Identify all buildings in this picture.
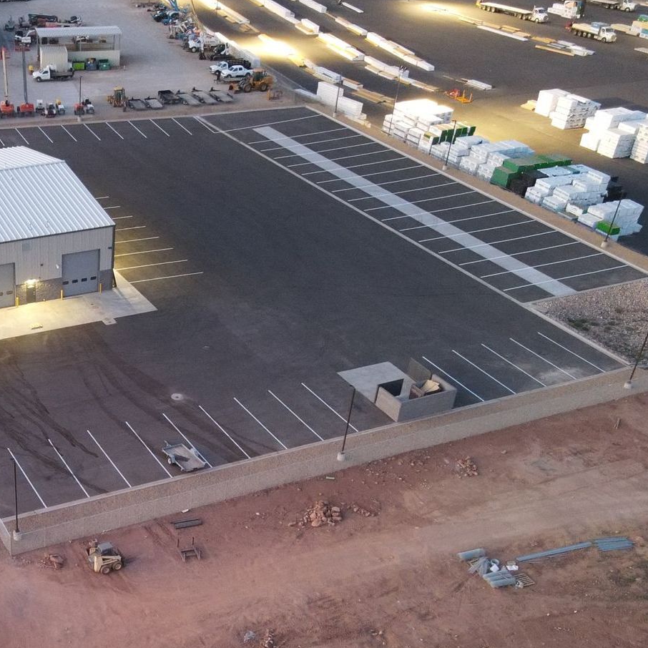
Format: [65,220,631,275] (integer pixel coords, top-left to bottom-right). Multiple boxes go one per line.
[36,24,126,64]
[0,145,120,308]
